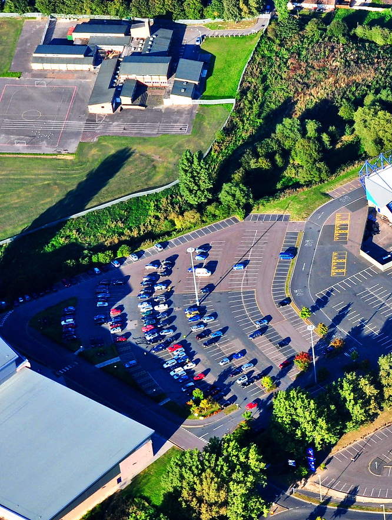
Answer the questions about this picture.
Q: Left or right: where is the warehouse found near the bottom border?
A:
left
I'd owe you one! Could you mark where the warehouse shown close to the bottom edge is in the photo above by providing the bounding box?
[0,366,157,520]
